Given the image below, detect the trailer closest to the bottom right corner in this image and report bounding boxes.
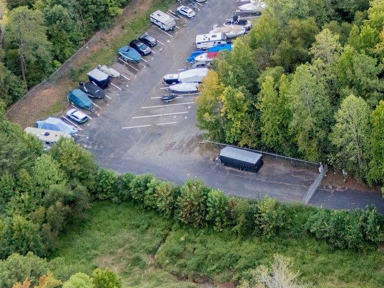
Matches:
[215,141,265,171]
